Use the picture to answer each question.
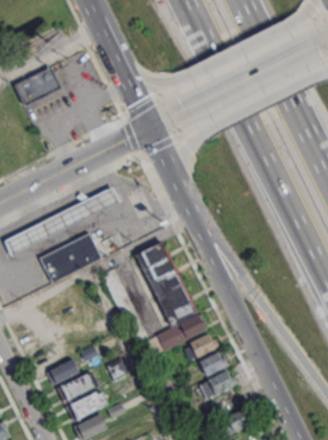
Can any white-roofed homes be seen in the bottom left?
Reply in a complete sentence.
Yes, a white-roofed home can be seen in the bottom left.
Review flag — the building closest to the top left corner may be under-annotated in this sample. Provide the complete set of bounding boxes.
[14,68,60,104]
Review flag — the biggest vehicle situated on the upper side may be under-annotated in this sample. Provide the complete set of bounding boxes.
[96,44,116,74]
